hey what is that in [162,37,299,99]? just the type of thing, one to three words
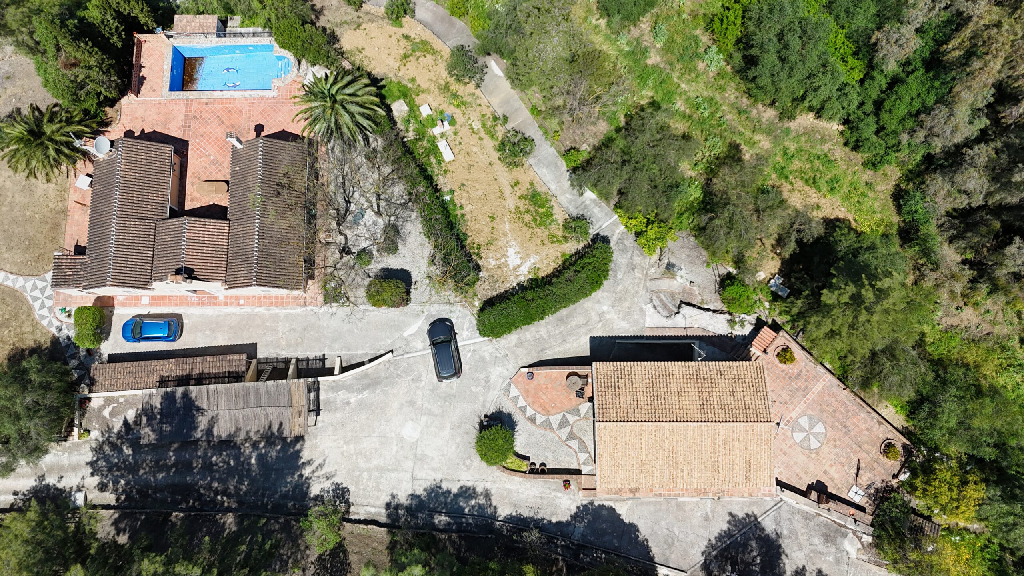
swimming pool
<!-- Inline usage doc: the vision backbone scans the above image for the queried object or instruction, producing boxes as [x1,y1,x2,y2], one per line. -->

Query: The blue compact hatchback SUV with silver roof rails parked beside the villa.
[120,316,183,346]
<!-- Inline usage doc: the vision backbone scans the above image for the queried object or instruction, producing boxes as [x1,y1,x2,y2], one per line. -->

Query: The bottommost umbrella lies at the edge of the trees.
[844,480,876,506]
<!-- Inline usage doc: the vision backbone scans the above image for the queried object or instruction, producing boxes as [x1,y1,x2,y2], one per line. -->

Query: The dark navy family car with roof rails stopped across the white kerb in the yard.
[427,320,461,384]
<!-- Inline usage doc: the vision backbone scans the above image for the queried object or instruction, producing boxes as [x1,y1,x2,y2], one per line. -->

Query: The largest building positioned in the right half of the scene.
[582,361,779,501]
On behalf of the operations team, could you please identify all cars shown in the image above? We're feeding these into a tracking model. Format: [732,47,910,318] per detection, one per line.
[427,320,461,384]
[120,316,183,346]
